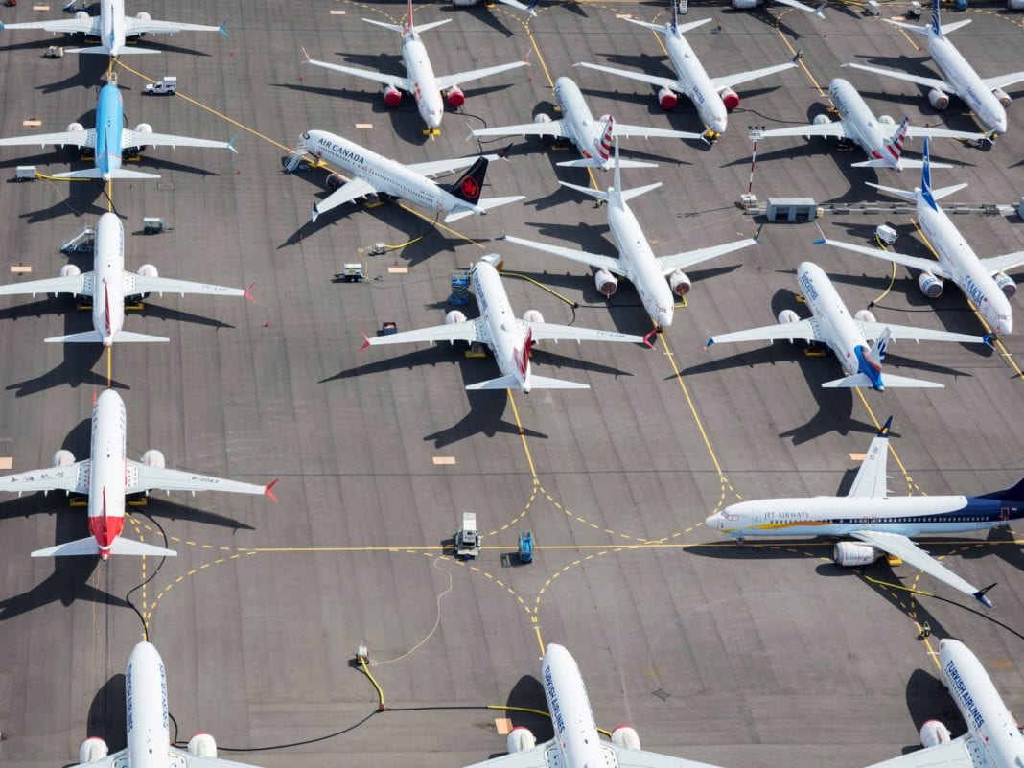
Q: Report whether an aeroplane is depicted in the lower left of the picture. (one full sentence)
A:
Yes, looking in the lower left of the picture, one can make out an aeroplane.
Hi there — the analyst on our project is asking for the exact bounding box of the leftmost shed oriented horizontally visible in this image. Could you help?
[764,198,819,223]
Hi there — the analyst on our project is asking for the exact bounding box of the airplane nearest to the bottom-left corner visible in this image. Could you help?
[72,643,253,768]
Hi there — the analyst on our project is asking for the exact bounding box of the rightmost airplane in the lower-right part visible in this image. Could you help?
[877,640,1024,768]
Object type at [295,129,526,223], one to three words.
airplane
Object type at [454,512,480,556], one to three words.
truck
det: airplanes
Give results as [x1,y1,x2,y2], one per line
[467,77,711,171]
[0,83,237,182]
[473,644,721,768]
[0,214,255,346]
[0,389,278,562]
[573,0,796,131]
[843,0,1024,130]
[302,0,531,131]
[707,261,996,394]
[0,0,227,57]
[295,129,526,223]
[361,260,657,395]
[706,416,1024,607]
[877,640,1024,768]
[72,643,253,768]
[496,136,762,330]
[758,79,995,172]
[816,139,1024,330]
